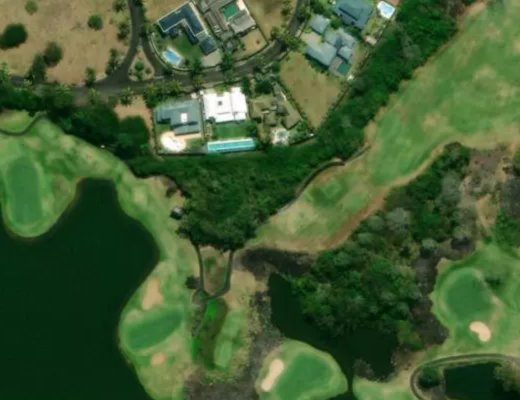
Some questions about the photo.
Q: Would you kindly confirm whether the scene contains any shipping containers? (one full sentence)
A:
No, I find no shipping container anywhere in the image.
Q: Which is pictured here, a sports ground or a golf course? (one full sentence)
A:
This looks like a golf course.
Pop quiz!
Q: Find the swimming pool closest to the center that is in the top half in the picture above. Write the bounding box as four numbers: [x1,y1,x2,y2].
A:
[207,138,254,153]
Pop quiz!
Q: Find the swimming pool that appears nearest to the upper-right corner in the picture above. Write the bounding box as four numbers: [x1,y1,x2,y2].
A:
[378,1,396,19]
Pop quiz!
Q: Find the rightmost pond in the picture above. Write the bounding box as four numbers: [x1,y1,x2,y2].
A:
[444,363,520,400]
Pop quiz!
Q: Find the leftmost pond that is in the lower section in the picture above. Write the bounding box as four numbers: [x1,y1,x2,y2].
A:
[266,273,397,400]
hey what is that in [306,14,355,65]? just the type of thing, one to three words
house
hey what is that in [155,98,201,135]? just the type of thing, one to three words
house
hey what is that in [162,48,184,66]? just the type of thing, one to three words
swimming pool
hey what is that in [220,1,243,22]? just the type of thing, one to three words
swimming pool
